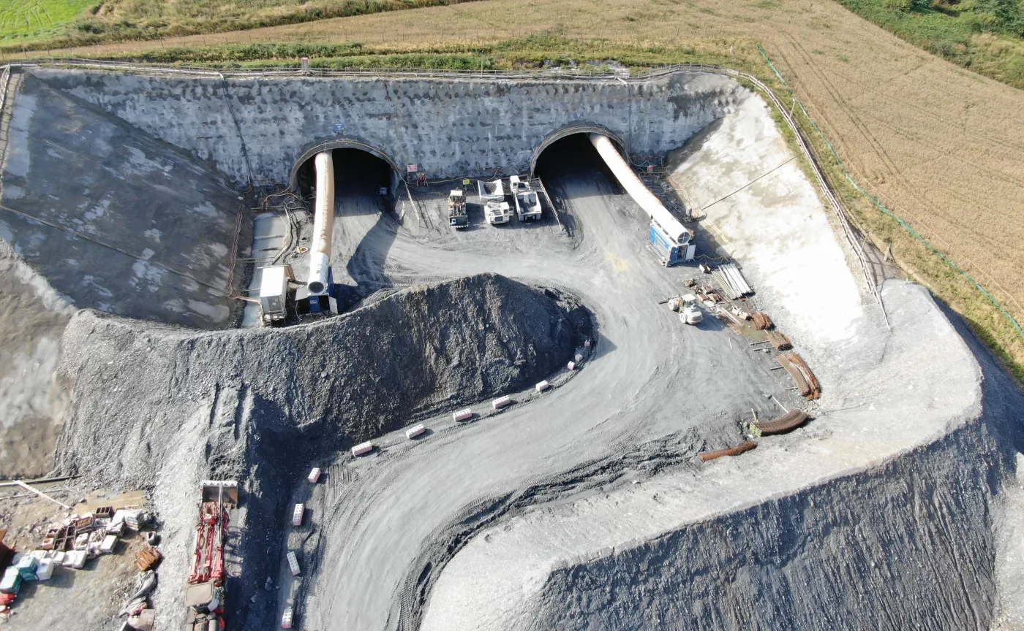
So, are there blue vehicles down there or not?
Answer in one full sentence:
No, this view has no blue vehicle in it.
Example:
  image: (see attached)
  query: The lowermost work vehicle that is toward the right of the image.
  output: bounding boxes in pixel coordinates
[653,291,706,323]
